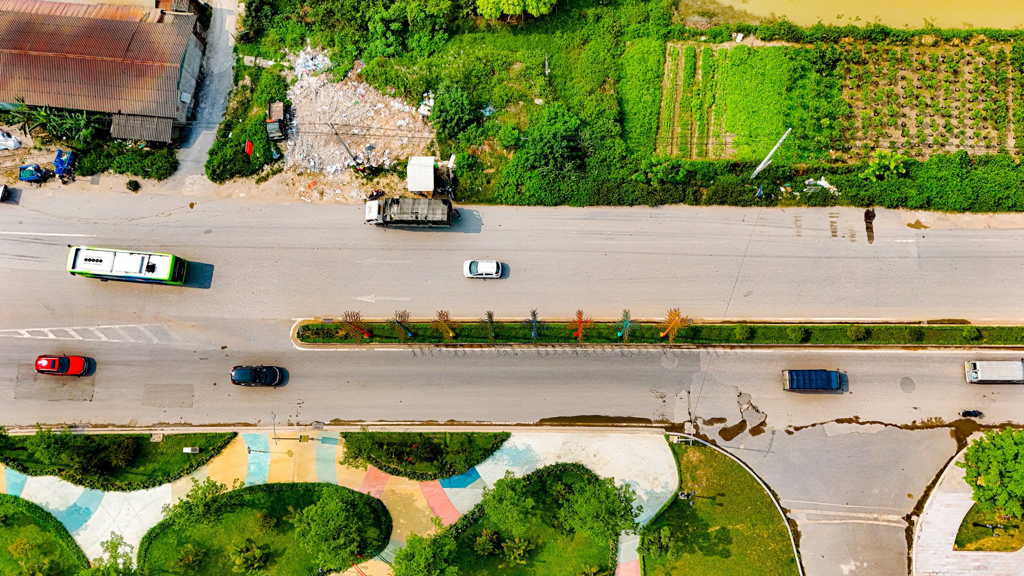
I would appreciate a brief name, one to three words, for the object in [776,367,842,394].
truck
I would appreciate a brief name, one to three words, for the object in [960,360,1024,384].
vehicle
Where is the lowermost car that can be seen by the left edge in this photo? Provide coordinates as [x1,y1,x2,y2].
[32,352,91,377]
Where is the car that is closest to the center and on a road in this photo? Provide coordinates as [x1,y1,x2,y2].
[464,257,502,279]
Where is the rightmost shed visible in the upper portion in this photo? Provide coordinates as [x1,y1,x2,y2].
[408,156,437,197]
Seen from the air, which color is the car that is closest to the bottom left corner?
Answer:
red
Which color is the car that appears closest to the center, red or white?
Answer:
white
